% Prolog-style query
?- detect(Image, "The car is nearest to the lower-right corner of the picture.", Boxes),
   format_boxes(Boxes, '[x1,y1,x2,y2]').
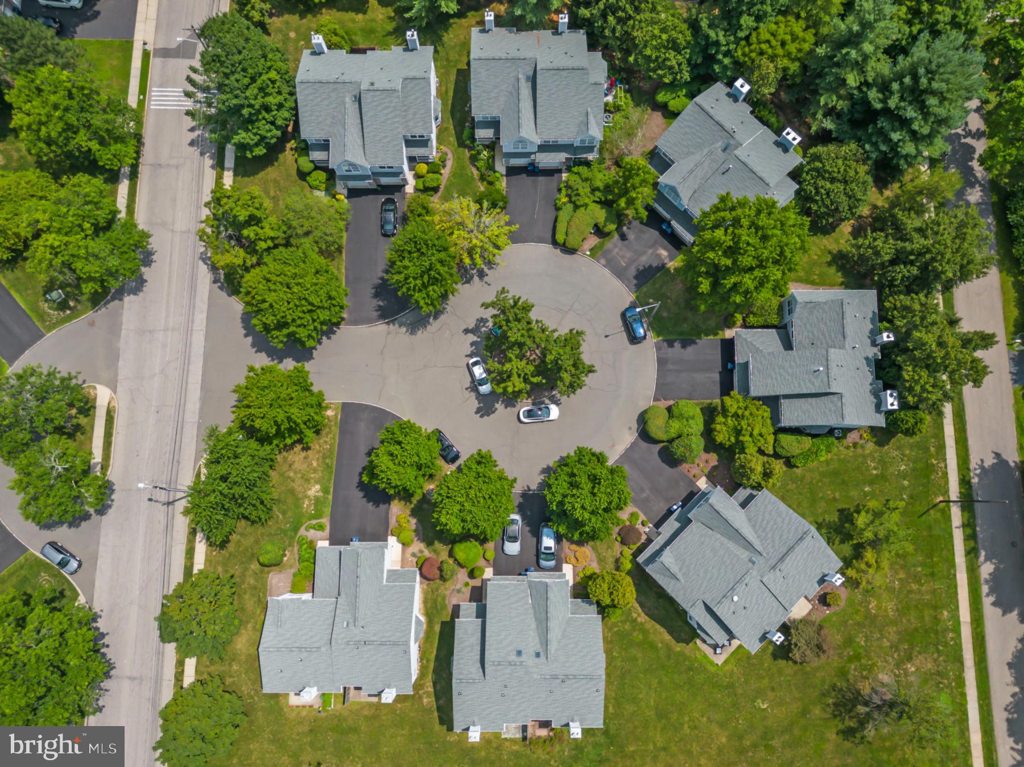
[538,525,557,568]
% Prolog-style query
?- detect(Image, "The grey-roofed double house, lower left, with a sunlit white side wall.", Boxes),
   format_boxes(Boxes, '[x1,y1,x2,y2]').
[259,542,425,702]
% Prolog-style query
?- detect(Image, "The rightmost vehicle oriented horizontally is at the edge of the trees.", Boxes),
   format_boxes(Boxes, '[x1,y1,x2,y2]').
[519,404,559,423]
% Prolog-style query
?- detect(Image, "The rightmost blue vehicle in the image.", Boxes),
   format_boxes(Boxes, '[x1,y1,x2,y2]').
[623,307,647,343]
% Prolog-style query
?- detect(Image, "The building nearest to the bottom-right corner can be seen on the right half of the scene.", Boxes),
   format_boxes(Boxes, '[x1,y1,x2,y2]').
[634,485,843,654]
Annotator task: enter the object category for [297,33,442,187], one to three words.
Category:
house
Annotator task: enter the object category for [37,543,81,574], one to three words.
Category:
car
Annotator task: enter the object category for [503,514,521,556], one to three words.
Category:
car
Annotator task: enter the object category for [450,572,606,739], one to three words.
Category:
house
